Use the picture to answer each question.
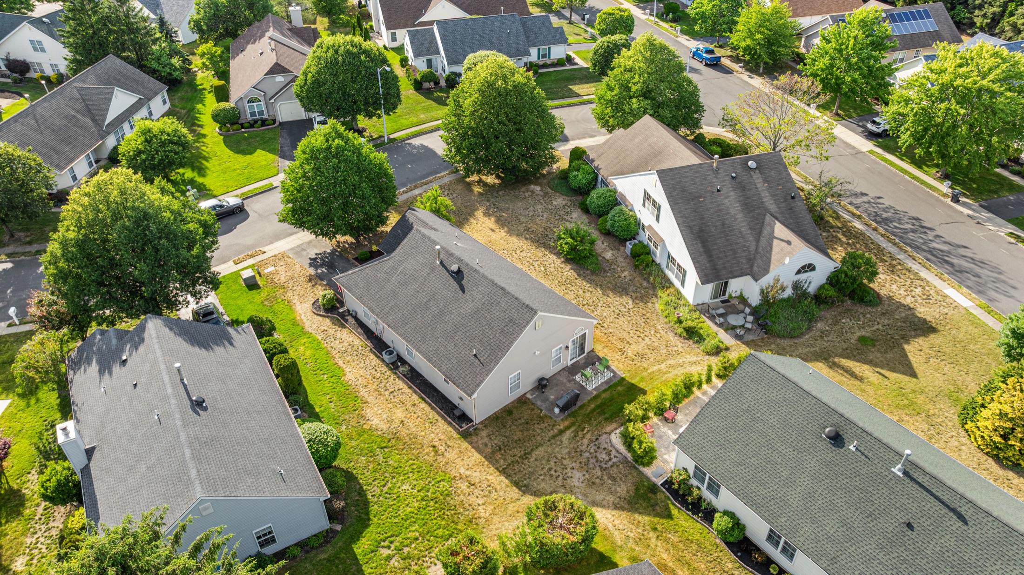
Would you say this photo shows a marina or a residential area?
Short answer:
residential area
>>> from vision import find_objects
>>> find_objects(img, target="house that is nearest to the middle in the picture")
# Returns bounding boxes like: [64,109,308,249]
[332,210,601,426]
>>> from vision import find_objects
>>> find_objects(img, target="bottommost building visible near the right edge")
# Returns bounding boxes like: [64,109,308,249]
[669,352,1024,575]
